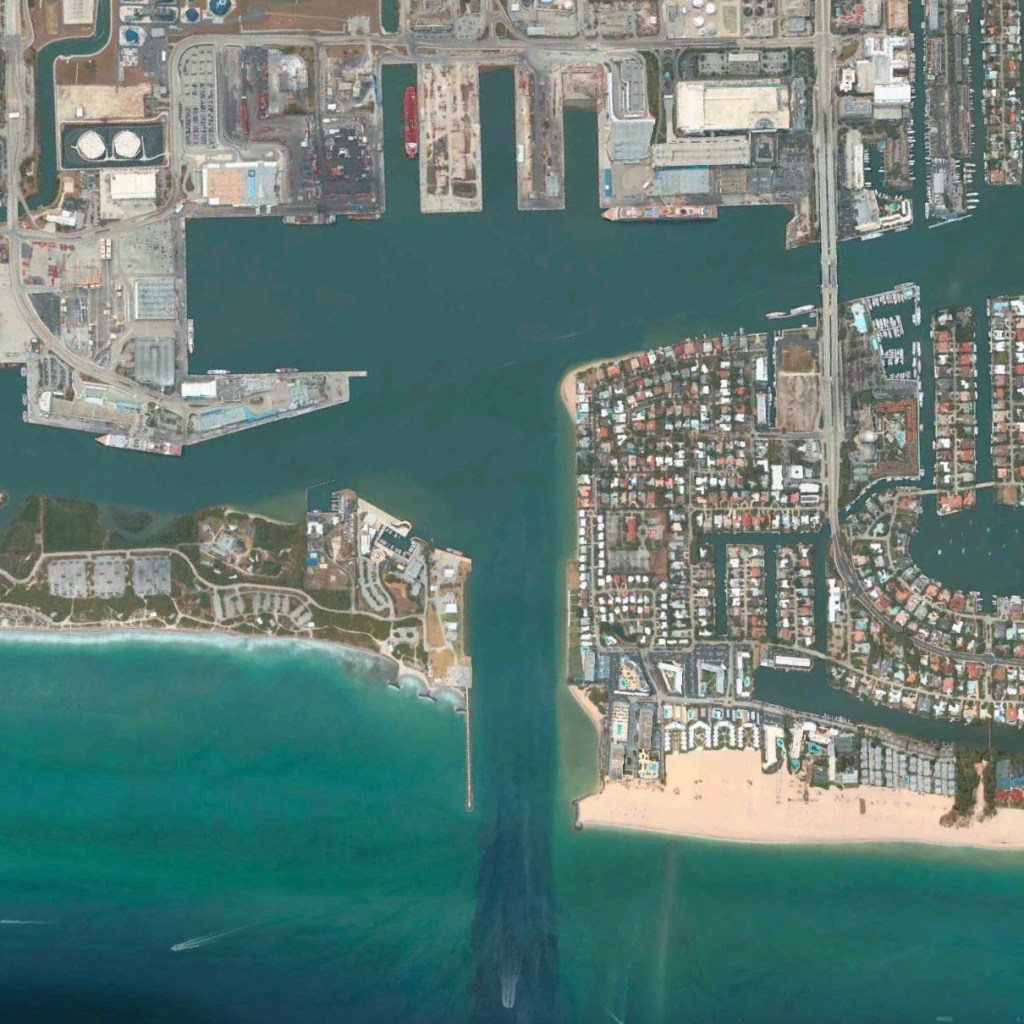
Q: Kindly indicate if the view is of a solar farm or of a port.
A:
port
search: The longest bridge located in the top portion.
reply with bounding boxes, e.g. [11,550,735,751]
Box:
[818,62,841,532]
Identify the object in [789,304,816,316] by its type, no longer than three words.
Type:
boat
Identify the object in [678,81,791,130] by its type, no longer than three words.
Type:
building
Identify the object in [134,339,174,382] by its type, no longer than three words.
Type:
shed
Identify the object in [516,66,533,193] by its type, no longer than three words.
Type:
pier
